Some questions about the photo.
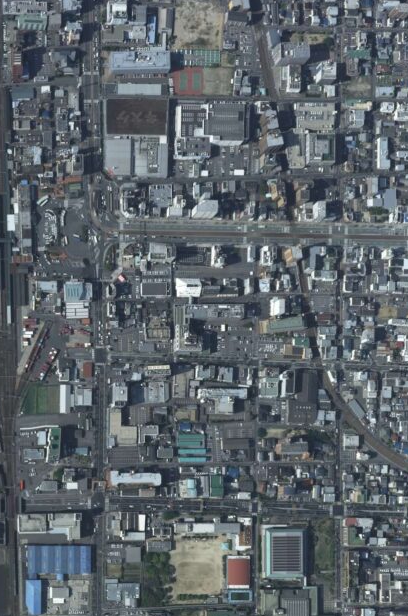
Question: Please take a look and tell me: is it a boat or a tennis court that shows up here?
tennis court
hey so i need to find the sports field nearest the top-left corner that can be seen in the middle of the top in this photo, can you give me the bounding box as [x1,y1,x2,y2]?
[171,0,223,49]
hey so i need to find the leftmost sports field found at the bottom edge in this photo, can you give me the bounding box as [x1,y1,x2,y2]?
[170,536,208,605]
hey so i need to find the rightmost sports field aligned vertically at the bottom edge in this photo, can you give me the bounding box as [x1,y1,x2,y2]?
[208,536,233,594]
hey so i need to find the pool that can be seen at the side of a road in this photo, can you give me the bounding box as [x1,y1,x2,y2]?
[228,590,252,603]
